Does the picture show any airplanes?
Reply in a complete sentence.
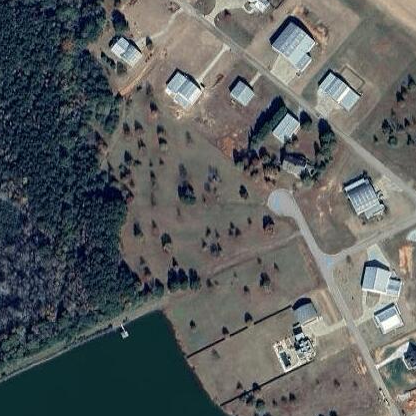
No, there appears to be no airplane in this shot.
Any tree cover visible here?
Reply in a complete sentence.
Yes, there is tree cover in the image.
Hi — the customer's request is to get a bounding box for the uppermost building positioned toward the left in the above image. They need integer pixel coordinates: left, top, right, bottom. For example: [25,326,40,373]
[111,39,142,67]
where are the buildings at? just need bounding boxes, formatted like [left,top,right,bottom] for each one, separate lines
[318,73,360,112]
[295,303,316,323]
[401,345,416,369]
[374,304,404,333]
[345,180,384,218]
[230,83,254,105]
[292,323,313,356]
[167,73,202,108]
[282,155,313,175]
[362,268,401,296]
[111,39,142,67]
[272,114,299,143]
[271,23,314,71]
